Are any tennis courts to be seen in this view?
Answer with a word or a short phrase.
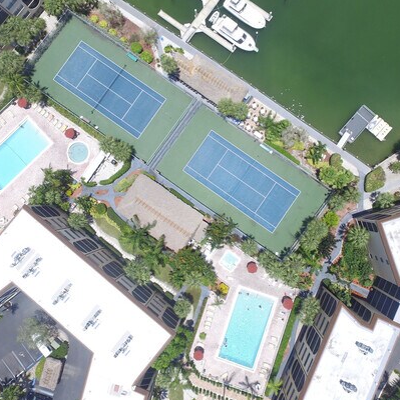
Yes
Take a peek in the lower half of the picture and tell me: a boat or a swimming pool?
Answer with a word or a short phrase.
swimming pool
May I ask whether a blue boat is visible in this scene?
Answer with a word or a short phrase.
No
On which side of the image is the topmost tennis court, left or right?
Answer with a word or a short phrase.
left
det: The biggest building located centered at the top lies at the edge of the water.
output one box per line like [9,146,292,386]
[175,51,250,105]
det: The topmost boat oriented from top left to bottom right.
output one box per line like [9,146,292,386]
[220,0,267,28]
